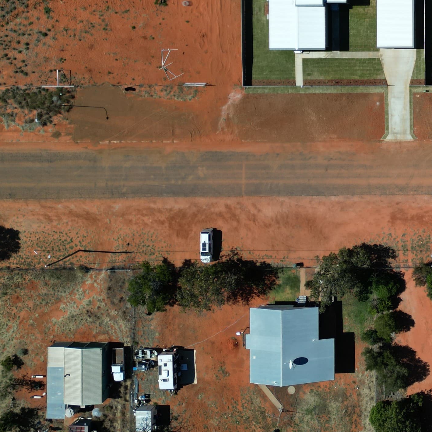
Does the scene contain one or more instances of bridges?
No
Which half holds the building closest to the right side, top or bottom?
top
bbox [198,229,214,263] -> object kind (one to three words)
car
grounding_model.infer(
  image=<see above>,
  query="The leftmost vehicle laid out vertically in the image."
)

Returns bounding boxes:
[108,349,125,384]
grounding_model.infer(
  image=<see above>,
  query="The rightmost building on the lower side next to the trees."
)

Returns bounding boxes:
[246,296,336,387]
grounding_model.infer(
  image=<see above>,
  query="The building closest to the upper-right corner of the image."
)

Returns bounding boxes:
[377,0,415,48]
